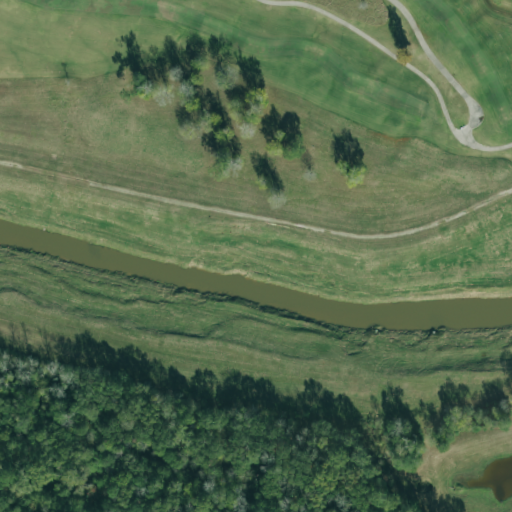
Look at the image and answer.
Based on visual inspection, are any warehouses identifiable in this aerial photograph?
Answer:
No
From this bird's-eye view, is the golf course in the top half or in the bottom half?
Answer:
top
